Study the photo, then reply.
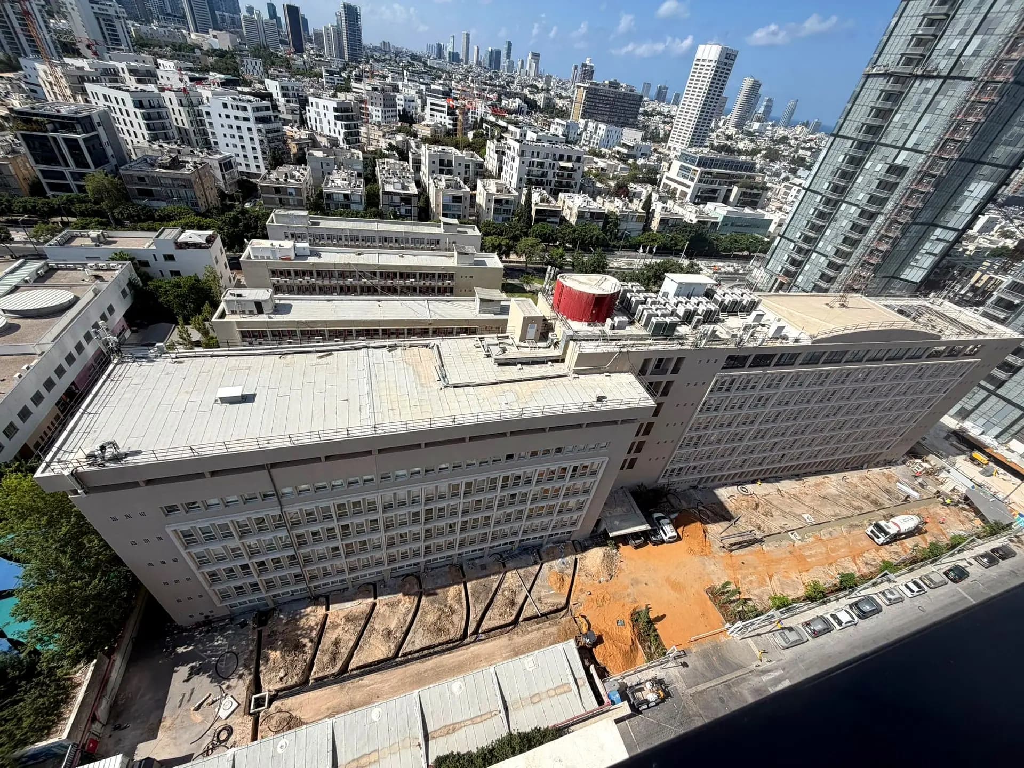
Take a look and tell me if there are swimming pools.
No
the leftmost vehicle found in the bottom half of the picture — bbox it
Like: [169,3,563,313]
[572,613,602,655]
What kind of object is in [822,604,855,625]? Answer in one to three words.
car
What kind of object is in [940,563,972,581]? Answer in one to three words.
car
